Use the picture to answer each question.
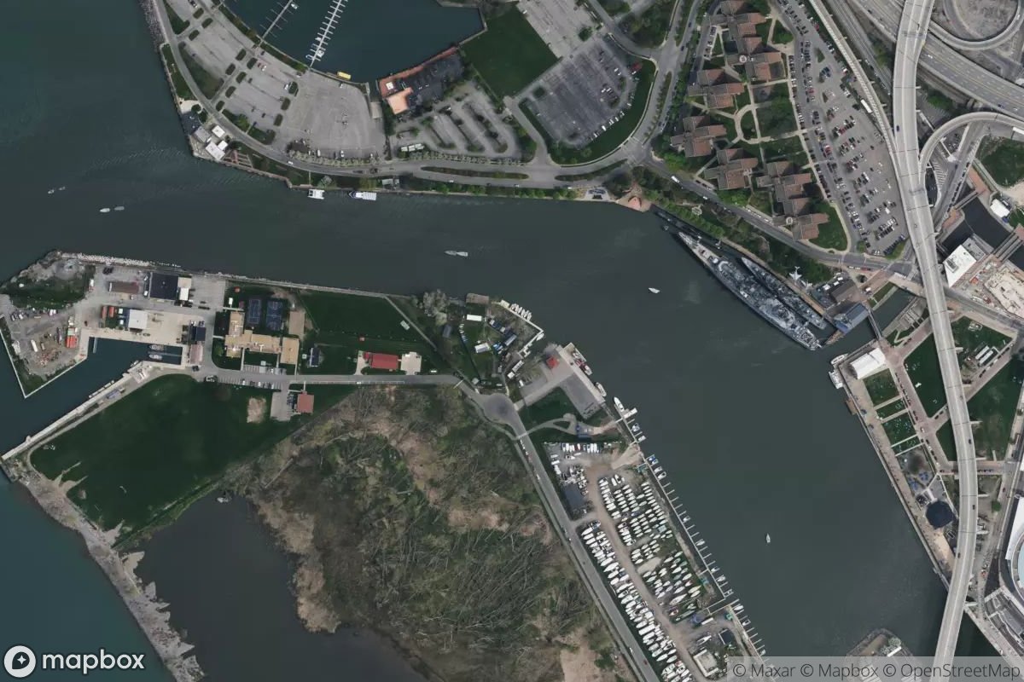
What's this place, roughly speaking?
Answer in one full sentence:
What you see here is a port.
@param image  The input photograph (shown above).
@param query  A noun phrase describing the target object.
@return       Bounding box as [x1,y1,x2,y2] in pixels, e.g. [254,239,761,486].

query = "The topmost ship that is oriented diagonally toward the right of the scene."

[654,208,729,256]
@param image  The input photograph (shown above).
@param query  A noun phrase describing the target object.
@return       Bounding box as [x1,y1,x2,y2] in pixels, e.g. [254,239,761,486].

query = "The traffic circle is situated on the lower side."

[478,393,523,426]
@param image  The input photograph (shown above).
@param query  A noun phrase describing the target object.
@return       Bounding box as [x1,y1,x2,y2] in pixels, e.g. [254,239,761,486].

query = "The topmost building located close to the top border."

[710,0,761,55]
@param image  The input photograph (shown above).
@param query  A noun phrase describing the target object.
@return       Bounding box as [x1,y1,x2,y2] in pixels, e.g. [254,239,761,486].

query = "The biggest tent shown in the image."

[850,347,887,379]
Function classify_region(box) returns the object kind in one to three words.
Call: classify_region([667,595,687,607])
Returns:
boat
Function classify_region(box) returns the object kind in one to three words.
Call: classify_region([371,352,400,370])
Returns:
building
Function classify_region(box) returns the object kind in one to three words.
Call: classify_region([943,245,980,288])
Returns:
building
